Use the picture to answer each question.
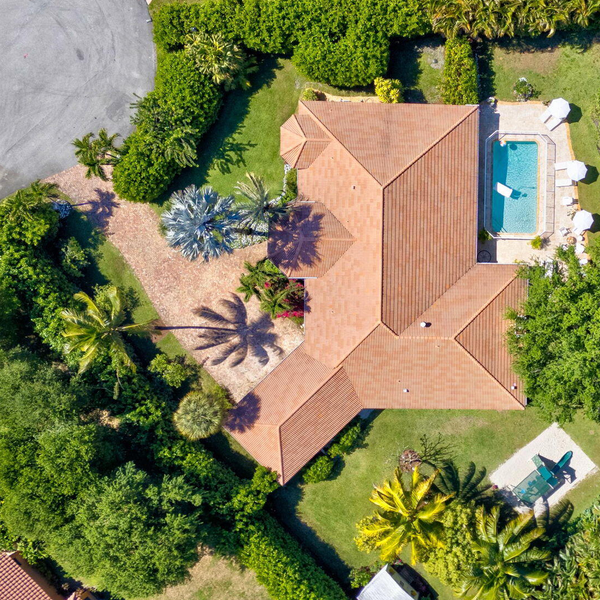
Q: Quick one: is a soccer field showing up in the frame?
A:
No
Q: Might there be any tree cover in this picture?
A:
Yes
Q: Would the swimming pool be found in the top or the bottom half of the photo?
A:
top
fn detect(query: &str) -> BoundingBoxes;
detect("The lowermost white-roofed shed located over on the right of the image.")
[361,561,422,600]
